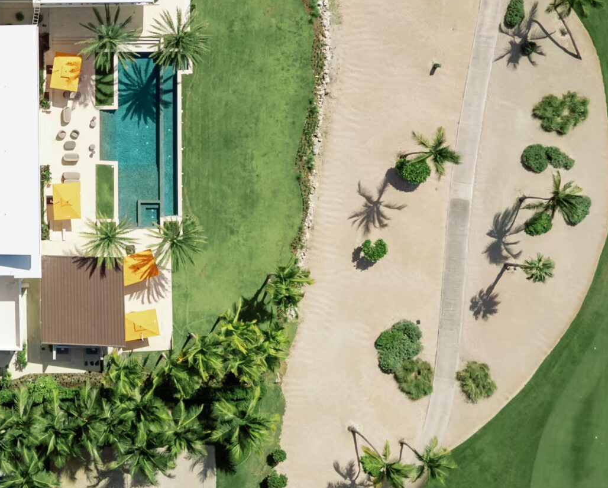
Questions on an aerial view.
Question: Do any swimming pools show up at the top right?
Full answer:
No, looking at the top right, there is no swimming pool.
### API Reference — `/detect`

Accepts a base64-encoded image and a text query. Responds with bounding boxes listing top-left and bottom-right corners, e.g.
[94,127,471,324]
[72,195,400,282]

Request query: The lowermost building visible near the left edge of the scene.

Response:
[29,255,126,373]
